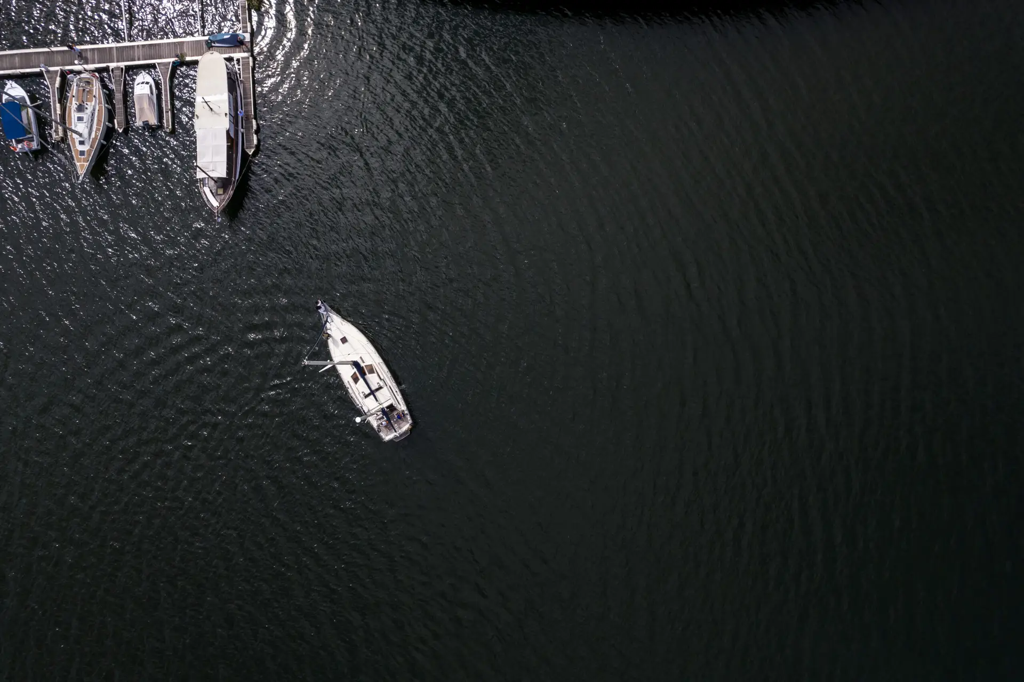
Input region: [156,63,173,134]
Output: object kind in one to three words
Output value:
pier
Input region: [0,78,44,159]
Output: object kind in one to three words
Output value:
boat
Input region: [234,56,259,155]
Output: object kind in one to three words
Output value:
pier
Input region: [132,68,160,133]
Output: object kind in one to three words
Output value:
boat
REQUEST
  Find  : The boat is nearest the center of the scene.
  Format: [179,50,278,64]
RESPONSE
[303,301,413,441]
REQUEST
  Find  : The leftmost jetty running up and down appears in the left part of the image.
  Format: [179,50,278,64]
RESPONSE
[43,71,65,141]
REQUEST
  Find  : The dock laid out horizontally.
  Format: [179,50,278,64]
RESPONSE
[0,33,250,78]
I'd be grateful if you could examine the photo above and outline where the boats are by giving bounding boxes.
[194,52,243,220]
[132,68,160,133]
[303,301,413,441]
[208,32,244,47]
[0,60,109,182]
[0,78,44,159]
